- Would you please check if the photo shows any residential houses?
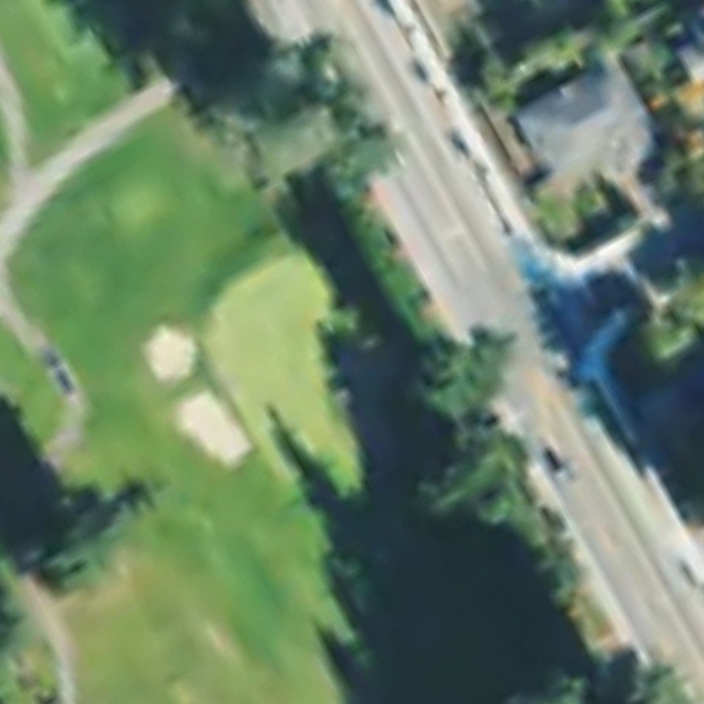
Yes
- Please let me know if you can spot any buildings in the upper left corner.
No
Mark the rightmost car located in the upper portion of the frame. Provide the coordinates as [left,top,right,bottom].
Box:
[452,130,471,154]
